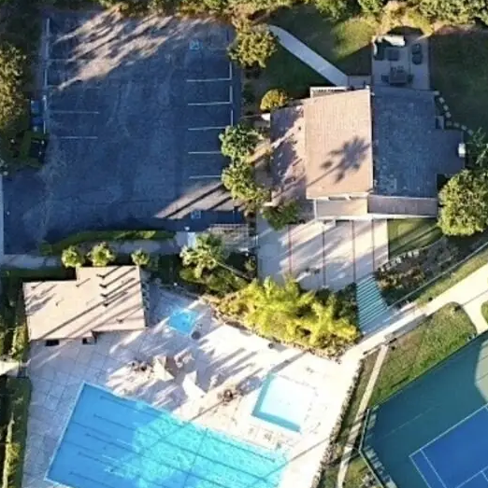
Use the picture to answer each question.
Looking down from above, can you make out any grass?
Yes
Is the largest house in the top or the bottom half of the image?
top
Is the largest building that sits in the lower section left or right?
left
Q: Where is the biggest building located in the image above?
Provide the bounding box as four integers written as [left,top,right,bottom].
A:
[271,87,465,227]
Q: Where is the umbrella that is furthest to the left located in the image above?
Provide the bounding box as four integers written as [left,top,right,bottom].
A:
[152,350,184,383]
